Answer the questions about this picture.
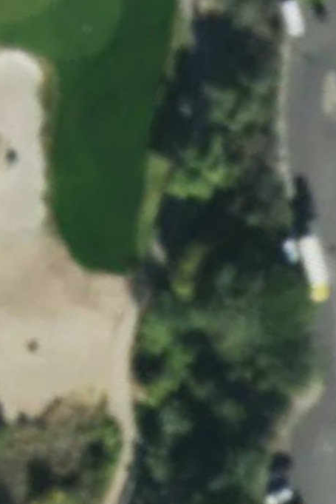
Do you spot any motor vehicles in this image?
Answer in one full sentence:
Yes, I can see a motor vehicle in this picture.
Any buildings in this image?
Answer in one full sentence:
No, there appears to be no building in this shot.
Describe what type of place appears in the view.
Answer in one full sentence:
This image shows a golf course.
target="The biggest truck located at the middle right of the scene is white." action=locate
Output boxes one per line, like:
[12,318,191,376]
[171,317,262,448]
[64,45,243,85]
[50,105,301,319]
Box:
[299,236,330,303]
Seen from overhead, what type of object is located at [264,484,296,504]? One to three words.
car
